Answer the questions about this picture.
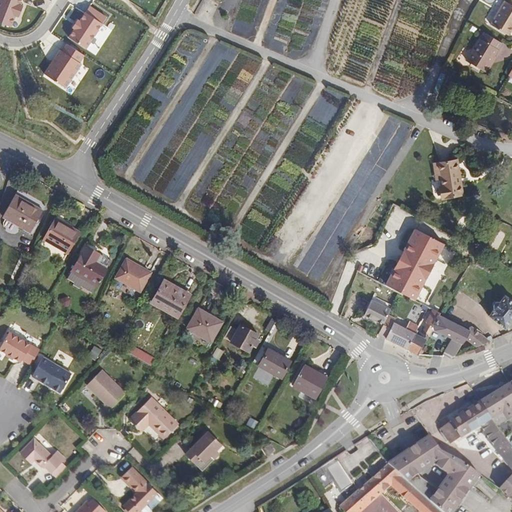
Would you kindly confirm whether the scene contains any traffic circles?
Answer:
Yes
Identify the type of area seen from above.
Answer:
residential area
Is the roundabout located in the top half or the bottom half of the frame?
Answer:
bottom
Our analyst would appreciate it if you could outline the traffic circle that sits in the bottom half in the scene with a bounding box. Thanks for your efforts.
[352,340,417,414]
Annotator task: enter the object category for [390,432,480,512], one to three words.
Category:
house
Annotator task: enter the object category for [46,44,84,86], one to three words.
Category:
house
